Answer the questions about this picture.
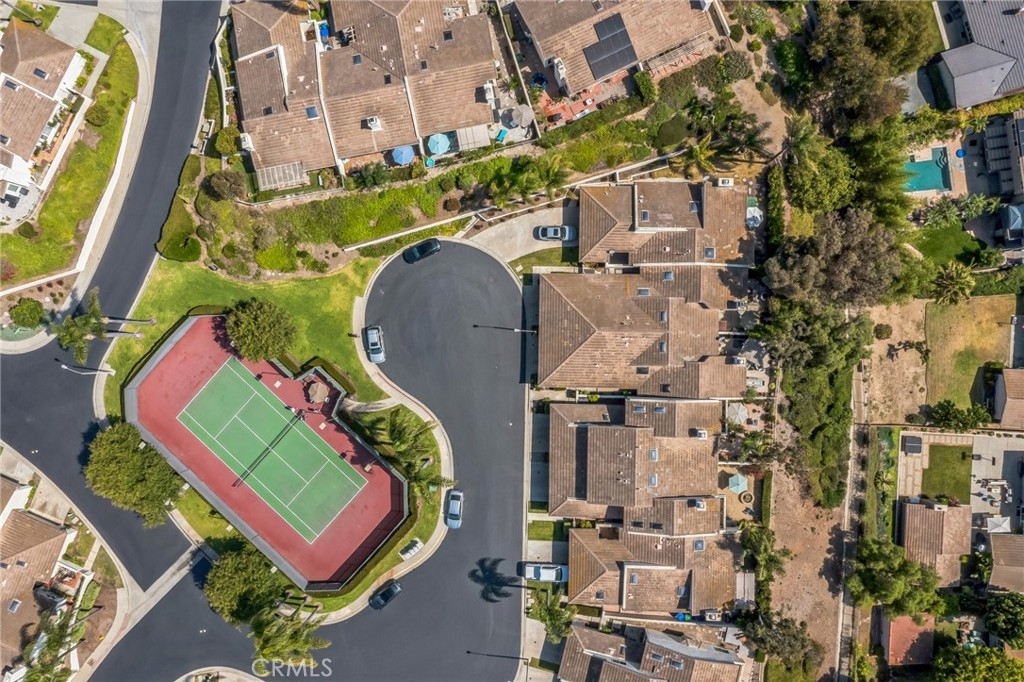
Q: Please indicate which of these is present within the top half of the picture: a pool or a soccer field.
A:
pool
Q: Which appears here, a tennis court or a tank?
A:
tennis court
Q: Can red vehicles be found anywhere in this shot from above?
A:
No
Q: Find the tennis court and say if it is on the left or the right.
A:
left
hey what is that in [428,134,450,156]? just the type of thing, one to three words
umbrella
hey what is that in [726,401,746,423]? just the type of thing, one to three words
umbrella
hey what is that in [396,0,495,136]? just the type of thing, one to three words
house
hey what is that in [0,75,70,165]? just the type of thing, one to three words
house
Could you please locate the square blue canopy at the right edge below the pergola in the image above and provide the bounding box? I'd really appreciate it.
[1000,210,1023,228]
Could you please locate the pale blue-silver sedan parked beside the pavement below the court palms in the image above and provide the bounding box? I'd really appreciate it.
[445,489,464,527]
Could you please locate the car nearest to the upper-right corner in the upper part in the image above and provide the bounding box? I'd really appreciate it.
[539,223,576,241]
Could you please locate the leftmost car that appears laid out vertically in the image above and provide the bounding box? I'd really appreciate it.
[364,325,385,363]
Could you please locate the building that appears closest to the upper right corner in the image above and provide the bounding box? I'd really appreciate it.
[928,0,1024,112]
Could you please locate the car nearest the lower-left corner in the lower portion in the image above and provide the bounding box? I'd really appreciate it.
[368,580,402,609]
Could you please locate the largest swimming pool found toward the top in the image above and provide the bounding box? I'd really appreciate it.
[903,146,952,193]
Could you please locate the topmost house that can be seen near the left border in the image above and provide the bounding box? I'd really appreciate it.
[0,16,88,103]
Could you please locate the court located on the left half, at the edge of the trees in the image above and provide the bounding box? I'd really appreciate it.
[137,316,407,583]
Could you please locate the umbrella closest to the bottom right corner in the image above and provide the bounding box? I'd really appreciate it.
[982,513,1006,534]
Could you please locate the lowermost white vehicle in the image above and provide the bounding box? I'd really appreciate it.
[526,563,569,583]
